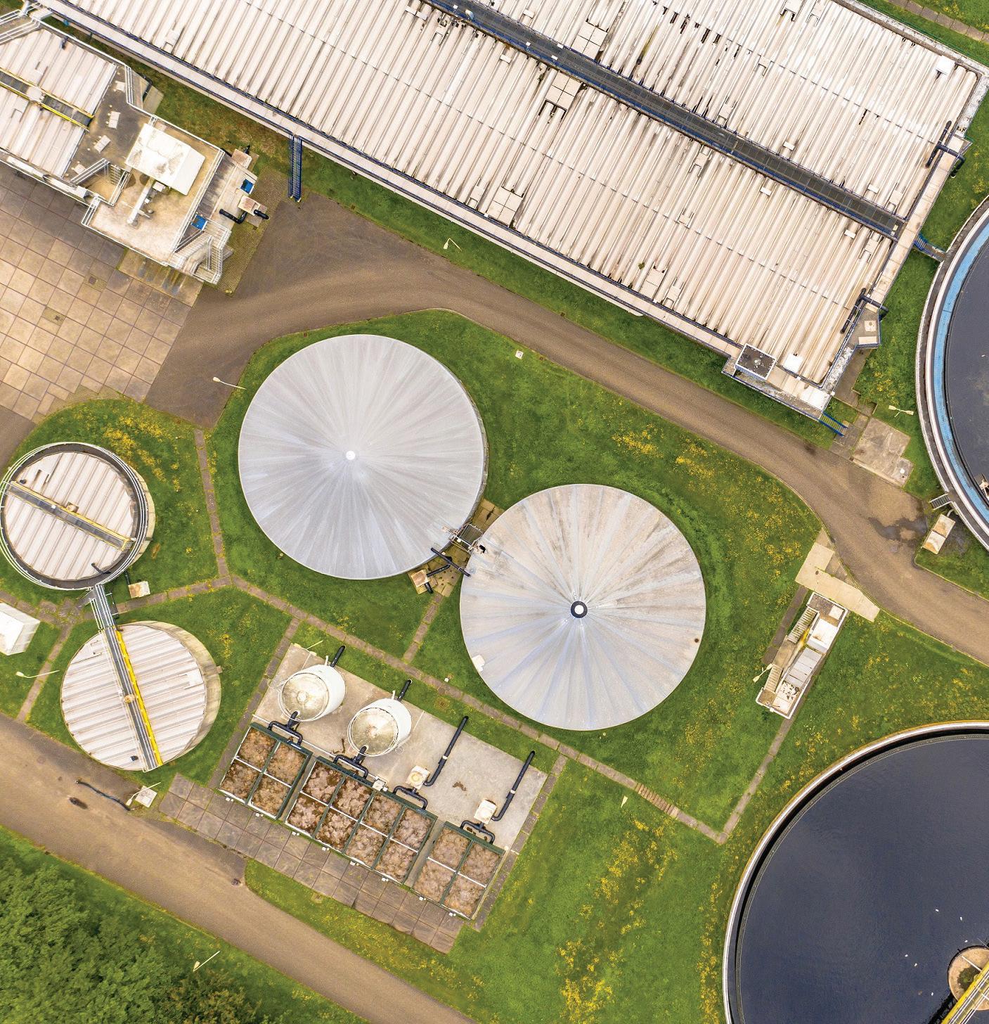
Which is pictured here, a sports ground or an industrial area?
industrial area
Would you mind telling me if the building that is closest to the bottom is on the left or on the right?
right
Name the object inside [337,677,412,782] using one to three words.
silo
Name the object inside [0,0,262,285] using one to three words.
building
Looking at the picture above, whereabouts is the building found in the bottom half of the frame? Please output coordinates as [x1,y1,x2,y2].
[755,591,849,718]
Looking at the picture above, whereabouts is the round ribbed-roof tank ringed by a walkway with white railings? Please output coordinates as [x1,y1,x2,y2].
[0,444,153,588]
